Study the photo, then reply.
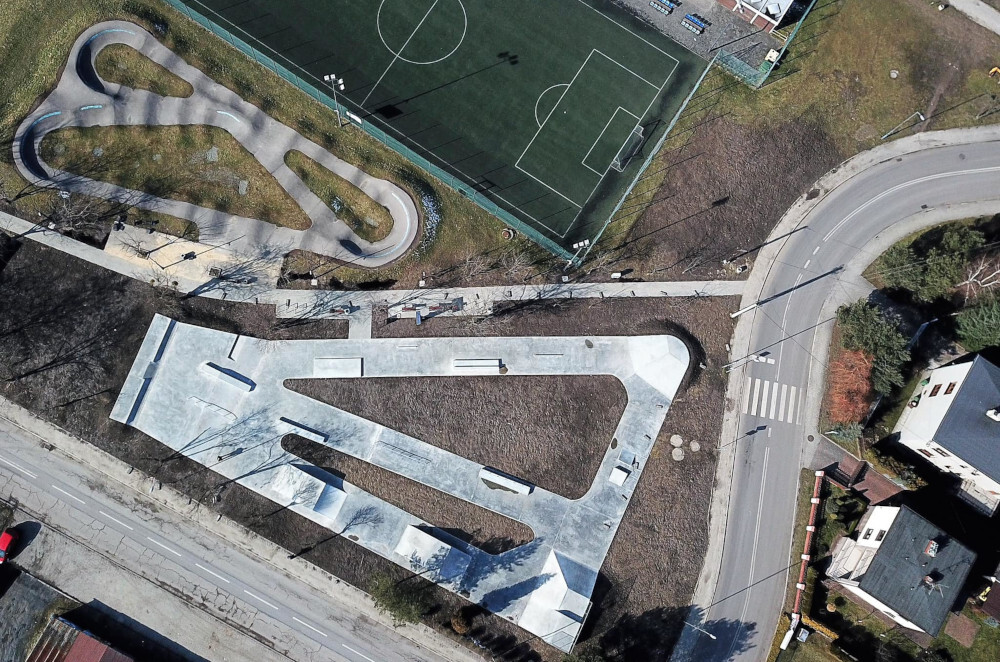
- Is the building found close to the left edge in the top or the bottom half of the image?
bottom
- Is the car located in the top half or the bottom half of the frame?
bottom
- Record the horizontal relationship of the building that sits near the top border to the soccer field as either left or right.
to the right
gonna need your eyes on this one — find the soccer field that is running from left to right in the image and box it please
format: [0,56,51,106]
[149,0,719,274]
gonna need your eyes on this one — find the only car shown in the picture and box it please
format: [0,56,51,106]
[0,525,21,570]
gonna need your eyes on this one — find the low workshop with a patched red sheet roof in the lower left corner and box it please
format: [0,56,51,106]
[26,612,146,662]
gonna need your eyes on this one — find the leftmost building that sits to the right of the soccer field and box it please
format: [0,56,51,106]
[731,0,795,35]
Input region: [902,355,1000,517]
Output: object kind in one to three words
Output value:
house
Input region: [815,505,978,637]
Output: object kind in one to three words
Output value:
house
